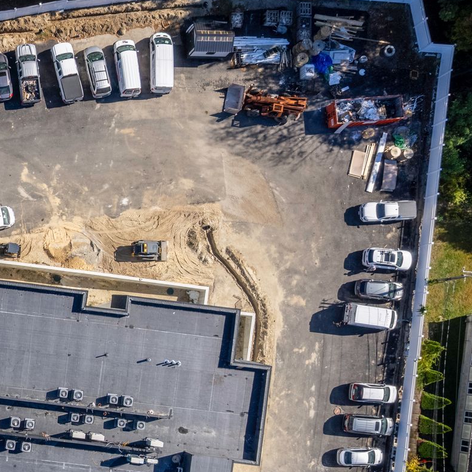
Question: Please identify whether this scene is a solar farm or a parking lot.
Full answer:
This looks like a parking lot.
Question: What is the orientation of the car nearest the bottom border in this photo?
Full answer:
The car nearest the bottom border runs from side to side in the image.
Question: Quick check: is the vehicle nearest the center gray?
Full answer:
Yes, the vehicle nearest the center is gray.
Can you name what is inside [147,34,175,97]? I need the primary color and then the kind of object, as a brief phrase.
white van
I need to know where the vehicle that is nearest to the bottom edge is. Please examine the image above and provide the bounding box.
[333,446,382,471]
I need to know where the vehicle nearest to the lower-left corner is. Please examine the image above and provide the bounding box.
[0,242,20,259]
